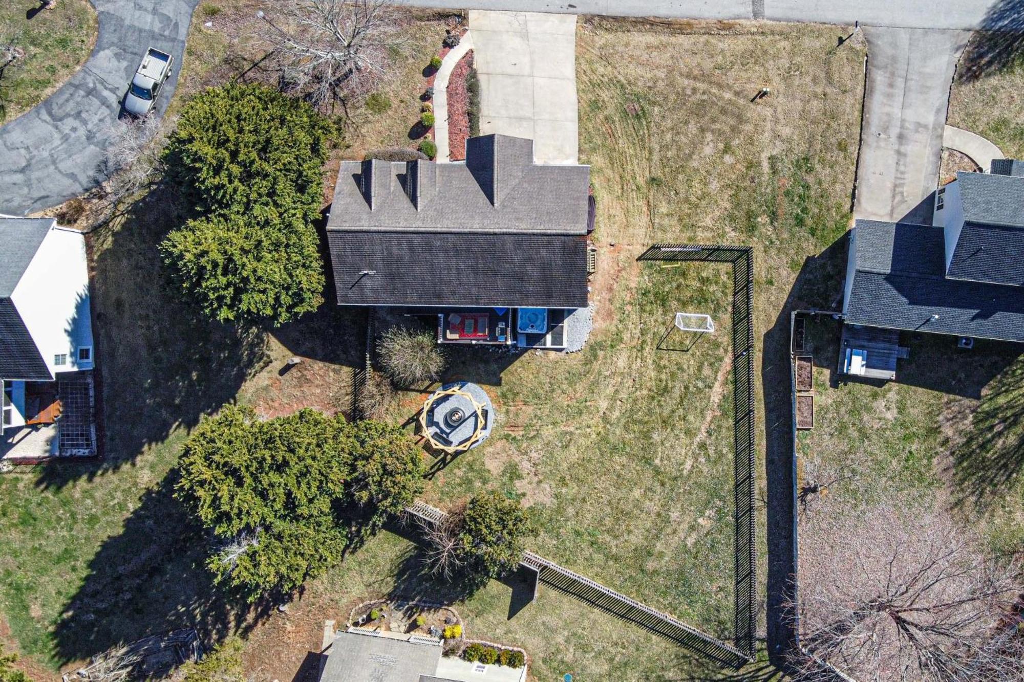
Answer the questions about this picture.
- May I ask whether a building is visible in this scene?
Yes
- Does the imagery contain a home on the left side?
Yes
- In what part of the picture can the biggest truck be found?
top left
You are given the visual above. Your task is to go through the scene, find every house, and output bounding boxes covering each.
[324,616,527,682]
[842,159,1024,342]
[327,133,590,308]
[0,215,94,435]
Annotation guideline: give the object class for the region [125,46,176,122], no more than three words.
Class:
truck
